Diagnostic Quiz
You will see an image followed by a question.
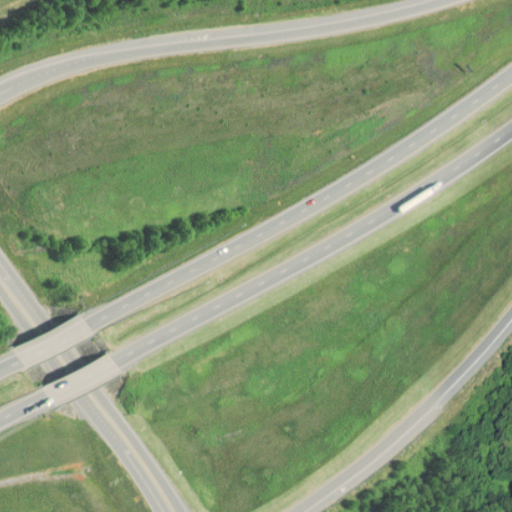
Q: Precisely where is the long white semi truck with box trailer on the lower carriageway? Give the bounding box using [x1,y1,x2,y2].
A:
[404,180,446,210]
